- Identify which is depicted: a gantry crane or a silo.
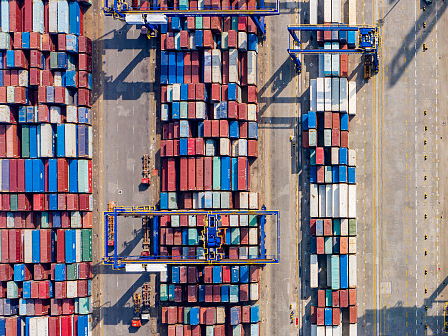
gantry crane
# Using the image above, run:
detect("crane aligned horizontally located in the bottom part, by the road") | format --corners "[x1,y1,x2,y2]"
[102,202,281,275]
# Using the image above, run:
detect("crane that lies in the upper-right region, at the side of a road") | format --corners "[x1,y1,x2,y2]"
[288,24,382,77]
